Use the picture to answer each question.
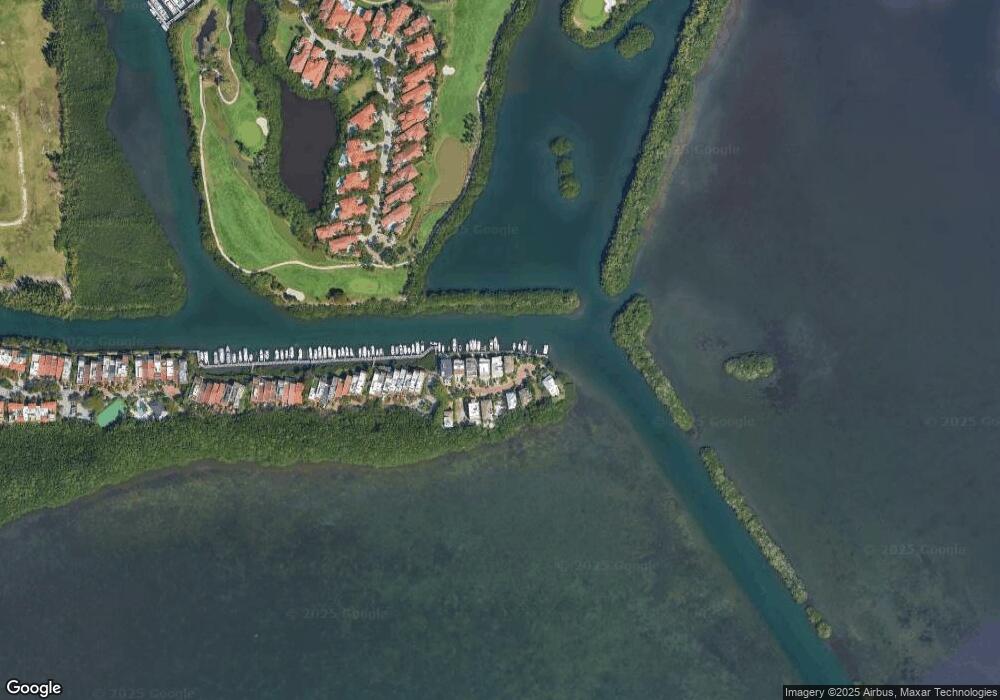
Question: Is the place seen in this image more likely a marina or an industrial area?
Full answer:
It's a marina.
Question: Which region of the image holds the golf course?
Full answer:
The golf course sits in the top section of the image.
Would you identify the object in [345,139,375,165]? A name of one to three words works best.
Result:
house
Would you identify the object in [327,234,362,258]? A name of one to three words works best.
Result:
house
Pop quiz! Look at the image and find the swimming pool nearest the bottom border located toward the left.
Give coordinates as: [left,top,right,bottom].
[131,397,150,417]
